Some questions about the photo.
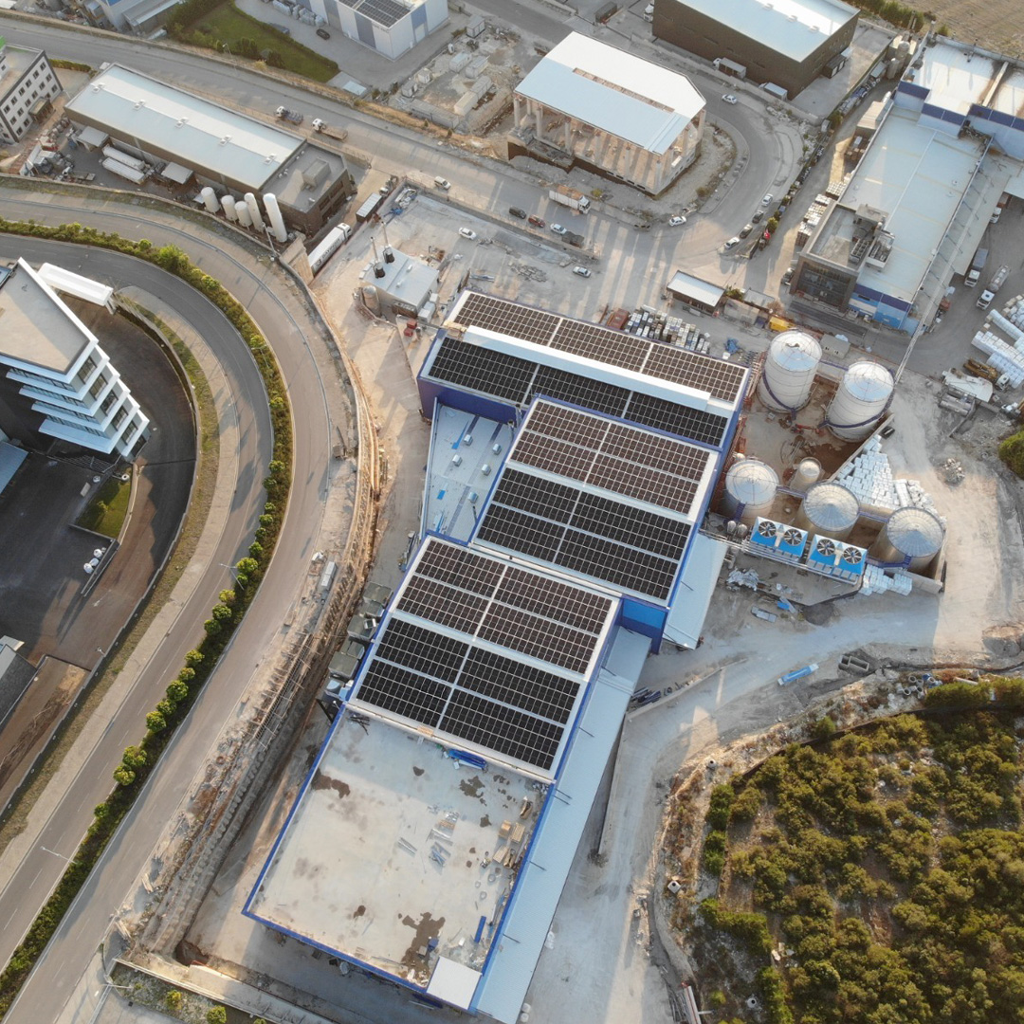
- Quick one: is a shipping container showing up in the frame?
Yes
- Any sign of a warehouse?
Yes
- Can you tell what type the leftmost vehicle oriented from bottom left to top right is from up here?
truck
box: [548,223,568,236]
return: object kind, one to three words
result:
vehicle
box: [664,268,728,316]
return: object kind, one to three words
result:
shed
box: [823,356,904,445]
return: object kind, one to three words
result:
storage tank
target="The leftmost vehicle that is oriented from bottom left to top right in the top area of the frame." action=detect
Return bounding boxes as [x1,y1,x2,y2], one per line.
[297,219,357,281]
